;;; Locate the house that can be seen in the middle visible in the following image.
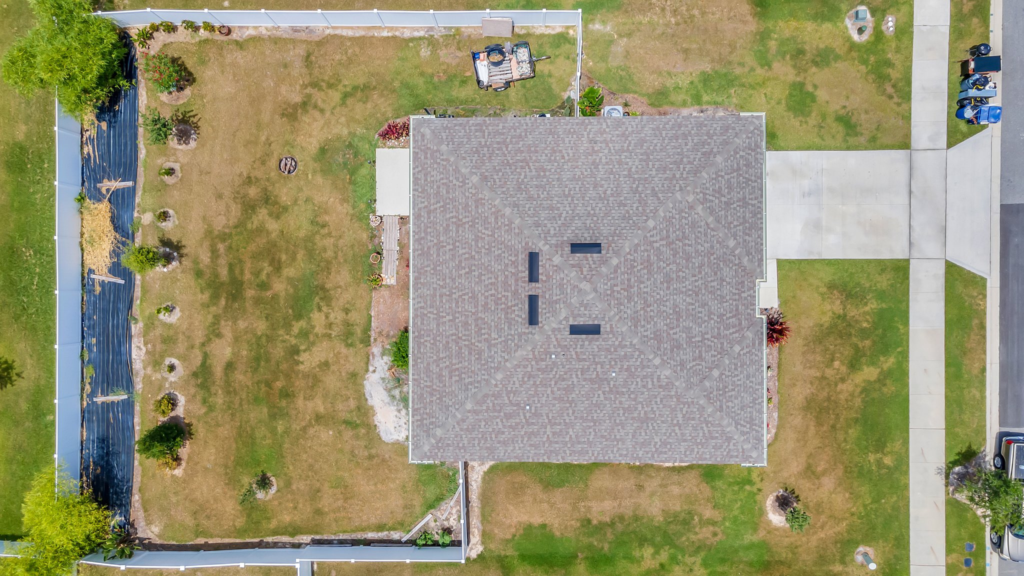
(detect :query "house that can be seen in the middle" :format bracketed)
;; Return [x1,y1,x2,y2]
[409,113,767,466]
